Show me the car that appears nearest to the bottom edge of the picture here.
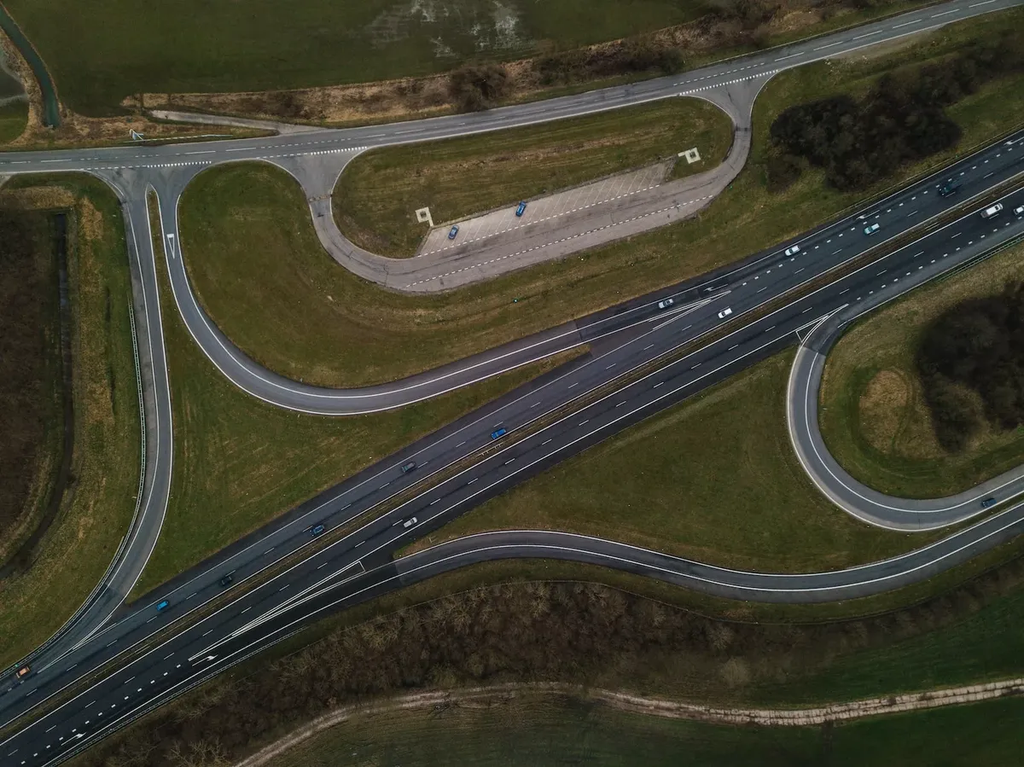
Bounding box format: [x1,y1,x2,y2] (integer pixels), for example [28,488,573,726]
[13,667,29,679]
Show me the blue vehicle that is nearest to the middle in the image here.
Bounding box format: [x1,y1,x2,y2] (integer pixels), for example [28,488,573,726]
[491,428,507,440]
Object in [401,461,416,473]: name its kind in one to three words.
vehicle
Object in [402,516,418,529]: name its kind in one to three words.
vehicle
